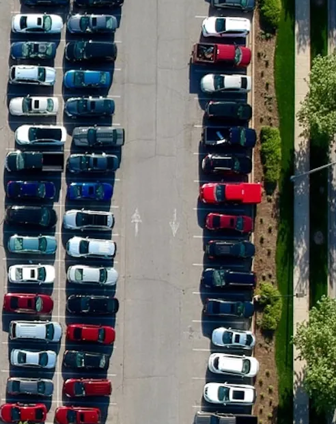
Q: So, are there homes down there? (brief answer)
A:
No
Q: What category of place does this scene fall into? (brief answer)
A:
parking lot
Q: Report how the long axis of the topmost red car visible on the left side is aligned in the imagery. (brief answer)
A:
horizontally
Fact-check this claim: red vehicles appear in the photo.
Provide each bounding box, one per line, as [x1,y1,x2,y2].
[63,377,111,399]
[53,405,99,424]
[66,324,114,346]
[3,293,52,315]
[198,180,263,205]
[205,211,252,234]
[189,41,251,66]
[0,402,46,424]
